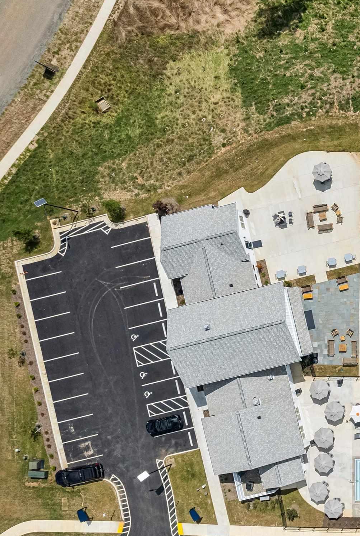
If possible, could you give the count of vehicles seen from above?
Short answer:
2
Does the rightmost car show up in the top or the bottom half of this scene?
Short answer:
bottom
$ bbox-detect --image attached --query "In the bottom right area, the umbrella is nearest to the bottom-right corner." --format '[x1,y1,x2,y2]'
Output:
[322,499,343,520]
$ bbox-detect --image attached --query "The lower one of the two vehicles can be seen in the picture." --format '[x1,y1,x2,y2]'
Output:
[58,463,108,486]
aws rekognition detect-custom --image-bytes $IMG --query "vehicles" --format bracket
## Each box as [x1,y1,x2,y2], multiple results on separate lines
[58,463,108,486]
[148,414,186,437]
